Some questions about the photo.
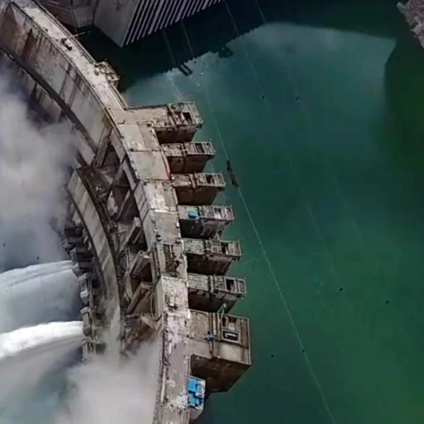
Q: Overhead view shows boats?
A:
No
